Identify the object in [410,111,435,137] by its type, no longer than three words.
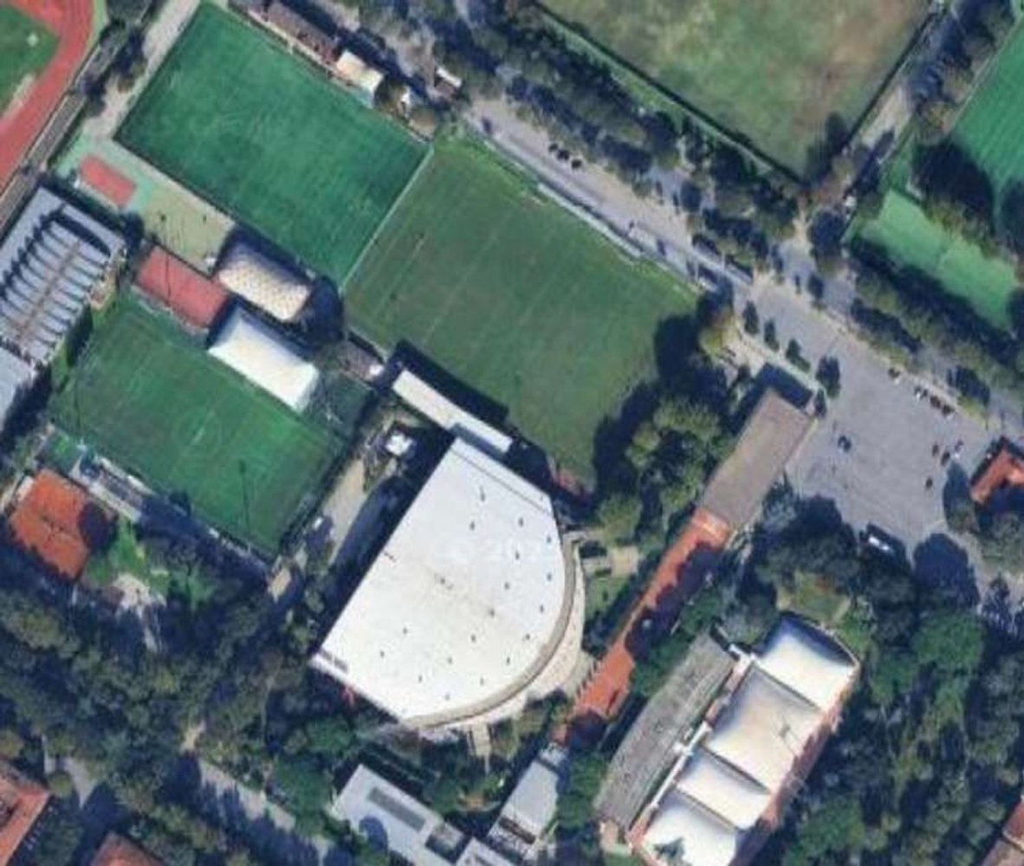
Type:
shed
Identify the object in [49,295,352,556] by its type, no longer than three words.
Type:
sports field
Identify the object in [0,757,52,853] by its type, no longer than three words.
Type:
house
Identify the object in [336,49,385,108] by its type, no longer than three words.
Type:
building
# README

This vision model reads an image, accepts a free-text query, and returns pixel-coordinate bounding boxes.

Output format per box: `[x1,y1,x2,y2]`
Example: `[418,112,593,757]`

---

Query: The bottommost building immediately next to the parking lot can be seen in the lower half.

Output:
[626,613,860,866]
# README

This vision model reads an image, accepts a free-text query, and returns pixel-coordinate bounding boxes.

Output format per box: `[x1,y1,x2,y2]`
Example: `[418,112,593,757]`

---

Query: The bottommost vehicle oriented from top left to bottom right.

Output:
[868,535,895,555]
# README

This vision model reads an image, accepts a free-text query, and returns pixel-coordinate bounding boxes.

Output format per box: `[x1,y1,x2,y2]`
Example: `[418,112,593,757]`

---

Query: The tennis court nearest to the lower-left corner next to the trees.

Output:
[9,469,97,579]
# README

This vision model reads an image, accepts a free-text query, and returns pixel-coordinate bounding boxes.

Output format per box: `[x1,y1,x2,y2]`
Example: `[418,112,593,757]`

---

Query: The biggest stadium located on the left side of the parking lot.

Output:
[314,439,588,757]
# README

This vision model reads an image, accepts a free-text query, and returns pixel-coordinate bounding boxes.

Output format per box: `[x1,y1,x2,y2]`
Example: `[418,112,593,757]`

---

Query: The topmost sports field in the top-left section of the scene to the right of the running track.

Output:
[111,0,433,291]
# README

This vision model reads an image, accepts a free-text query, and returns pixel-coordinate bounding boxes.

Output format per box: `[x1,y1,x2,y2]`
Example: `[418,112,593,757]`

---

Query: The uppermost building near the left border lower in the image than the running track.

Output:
[0,186,124,364]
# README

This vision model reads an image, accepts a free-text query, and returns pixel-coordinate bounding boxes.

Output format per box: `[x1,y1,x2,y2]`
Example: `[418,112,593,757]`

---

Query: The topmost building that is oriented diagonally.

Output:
[262,4,340,66]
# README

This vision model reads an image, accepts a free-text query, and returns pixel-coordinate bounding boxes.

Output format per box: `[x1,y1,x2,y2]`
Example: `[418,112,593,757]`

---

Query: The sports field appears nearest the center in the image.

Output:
[346,147,700,495]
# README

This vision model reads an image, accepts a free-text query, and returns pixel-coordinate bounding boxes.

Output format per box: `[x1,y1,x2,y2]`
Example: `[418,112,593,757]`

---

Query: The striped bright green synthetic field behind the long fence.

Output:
[952,22,1024,231]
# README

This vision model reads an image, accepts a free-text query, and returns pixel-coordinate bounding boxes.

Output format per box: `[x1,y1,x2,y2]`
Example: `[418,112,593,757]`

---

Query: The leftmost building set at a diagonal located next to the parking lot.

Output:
[576,506,730,719]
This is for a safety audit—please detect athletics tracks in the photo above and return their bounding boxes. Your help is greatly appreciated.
[0,0,95,186]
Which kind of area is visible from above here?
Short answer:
sports ground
